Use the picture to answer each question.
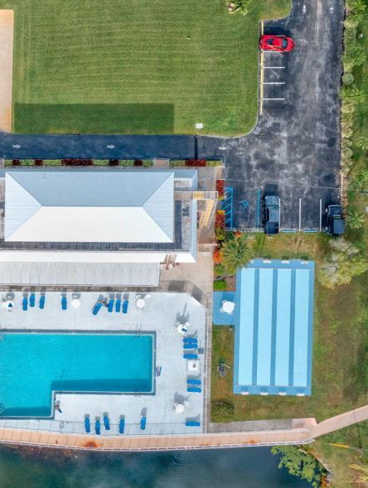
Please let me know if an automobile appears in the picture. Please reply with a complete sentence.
Yes, this view includes an automobile.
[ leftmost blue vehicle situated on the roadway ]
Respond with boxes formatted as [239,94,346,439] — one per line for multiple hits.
[261,195,284,235]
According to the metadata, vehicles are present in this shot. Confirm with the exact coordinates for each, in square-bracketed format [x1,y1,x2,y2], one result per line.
[259,33,295,51]
[261,195,284,235]
[322,203,345,236]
